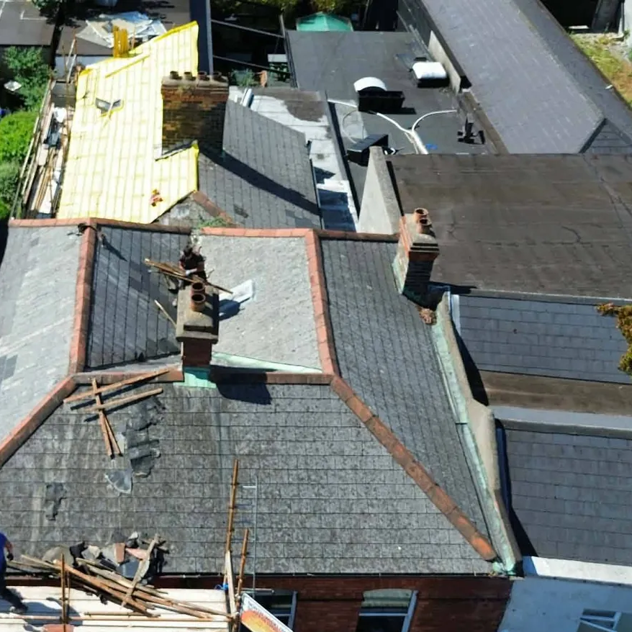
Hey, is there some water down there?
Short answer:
No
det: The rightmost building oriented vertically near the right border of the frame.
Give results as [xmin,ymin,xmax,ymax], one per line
[389,154,632,632]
